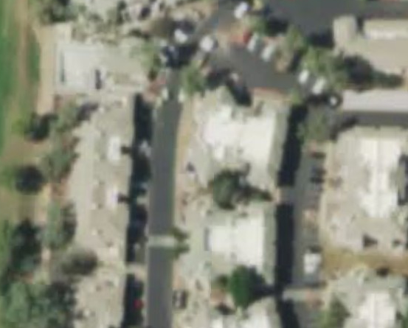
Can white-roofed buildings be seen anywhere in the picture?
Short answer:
Yes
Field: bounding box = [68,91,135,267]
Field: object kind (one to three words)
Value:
building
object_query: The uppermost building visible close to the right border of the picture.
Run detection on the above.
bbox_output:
[335,16,408,74]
